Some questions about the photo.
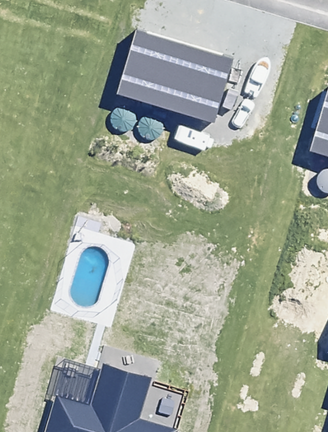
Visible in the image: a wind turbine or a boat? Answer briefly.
boat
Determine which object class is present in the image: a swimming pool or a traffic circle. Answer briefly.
swimming pool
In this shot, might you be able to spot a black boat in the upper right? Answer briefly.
No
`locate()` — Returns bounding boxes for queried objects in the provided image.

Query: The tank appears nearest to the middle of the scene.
[138,115,164,140]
